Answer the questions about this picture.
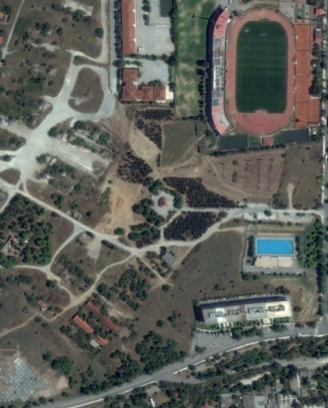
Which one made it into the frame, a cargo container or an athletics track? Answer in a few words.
athletics track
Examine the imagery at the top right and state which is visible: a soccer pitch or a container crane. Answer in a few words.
soccer pitch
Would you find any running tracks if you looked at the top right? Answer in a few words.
Yes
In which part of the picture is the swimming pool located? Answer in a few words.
right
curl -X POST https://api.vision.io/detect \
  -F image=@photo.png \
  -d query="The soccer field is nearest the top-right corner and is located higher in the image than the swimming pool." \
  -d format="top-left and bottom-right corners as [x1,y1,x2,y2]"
[236,21,288,113]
